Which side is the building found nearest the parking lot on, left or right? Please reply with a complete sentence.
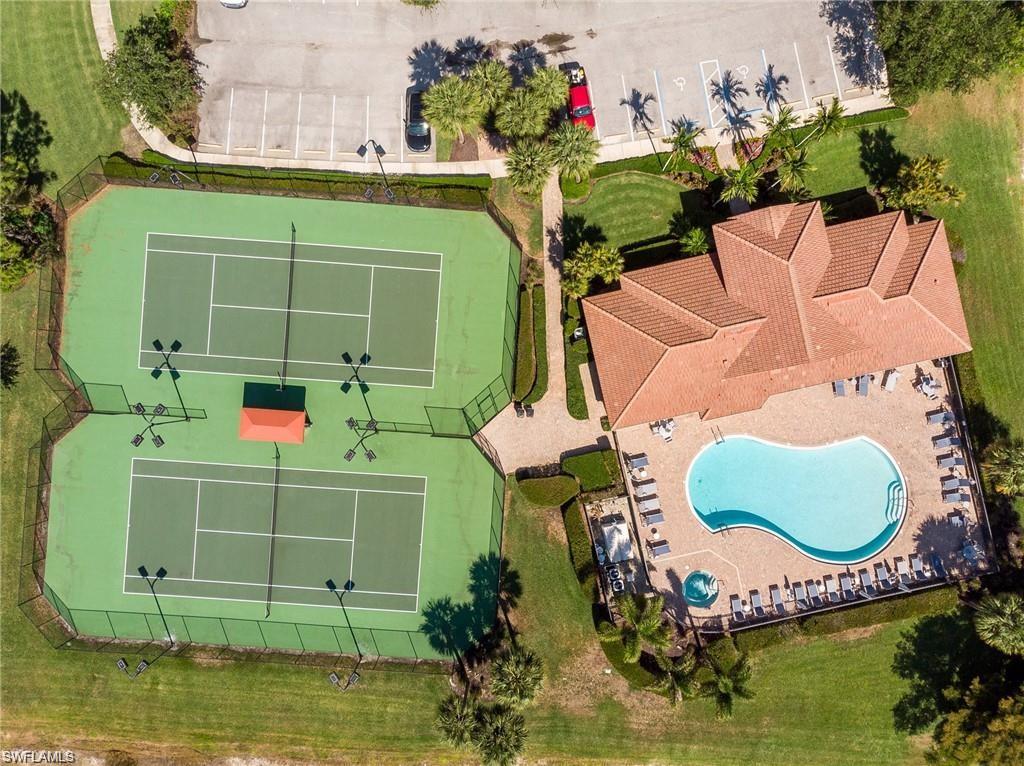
The building found nearest the parking lot sits on the right side.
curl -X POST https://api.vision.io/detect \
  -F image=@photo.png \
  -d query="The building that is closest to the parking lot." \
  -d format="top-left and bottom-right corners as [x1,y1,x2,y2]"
[585,200,975,430]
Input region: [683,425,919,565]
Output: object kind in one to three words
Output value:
swimming pool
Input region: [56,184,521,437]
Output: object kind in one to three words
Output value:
tennis court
